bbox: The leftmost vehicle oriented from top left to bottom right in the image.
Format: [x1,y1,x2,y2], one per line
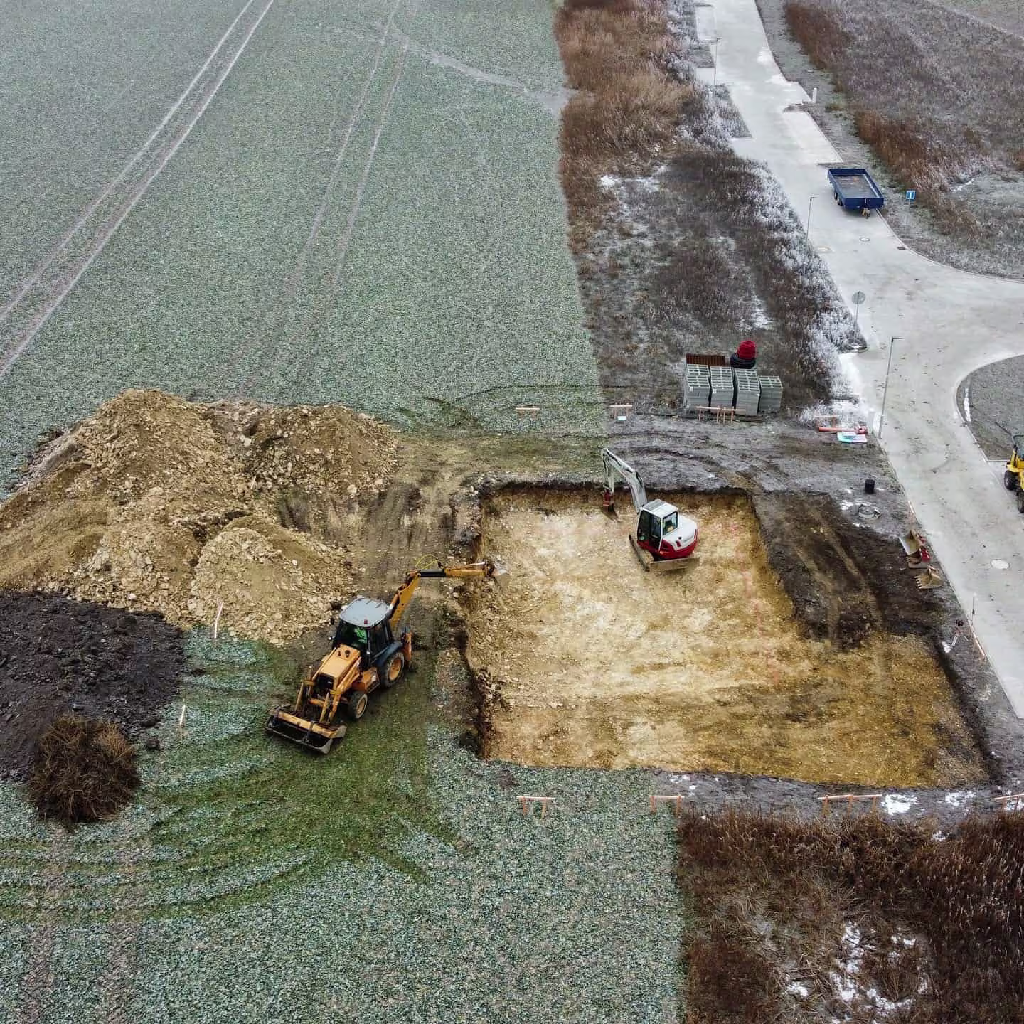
[602,445,699,575]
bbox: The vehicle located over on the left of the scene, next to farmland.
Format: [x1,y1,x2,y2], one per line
[274,555,510,750]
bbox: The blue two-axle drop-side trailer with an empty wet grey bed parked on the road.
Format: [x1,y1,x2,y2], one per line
[828,170,884,221]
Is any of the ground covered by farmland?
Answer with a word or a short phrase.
Yes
